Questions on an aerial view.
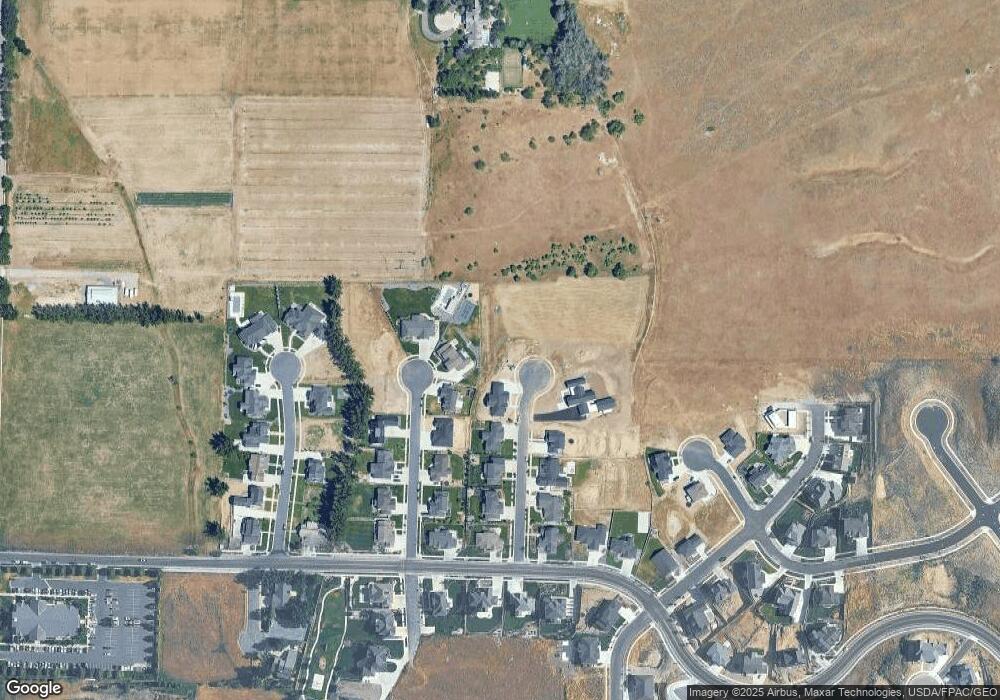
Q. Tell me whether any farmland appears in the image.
Yes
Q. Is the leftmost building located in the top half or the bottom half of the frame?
bottom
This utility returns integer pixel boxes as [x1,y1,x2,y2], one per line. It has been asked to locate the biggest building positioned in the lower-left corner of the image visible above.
[13,599,80,643]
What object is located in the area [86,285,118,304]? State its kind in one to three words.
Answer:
barn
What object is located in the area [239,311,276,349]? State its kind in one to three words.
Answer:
house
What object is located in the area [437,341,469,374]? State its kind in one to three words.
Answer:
house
